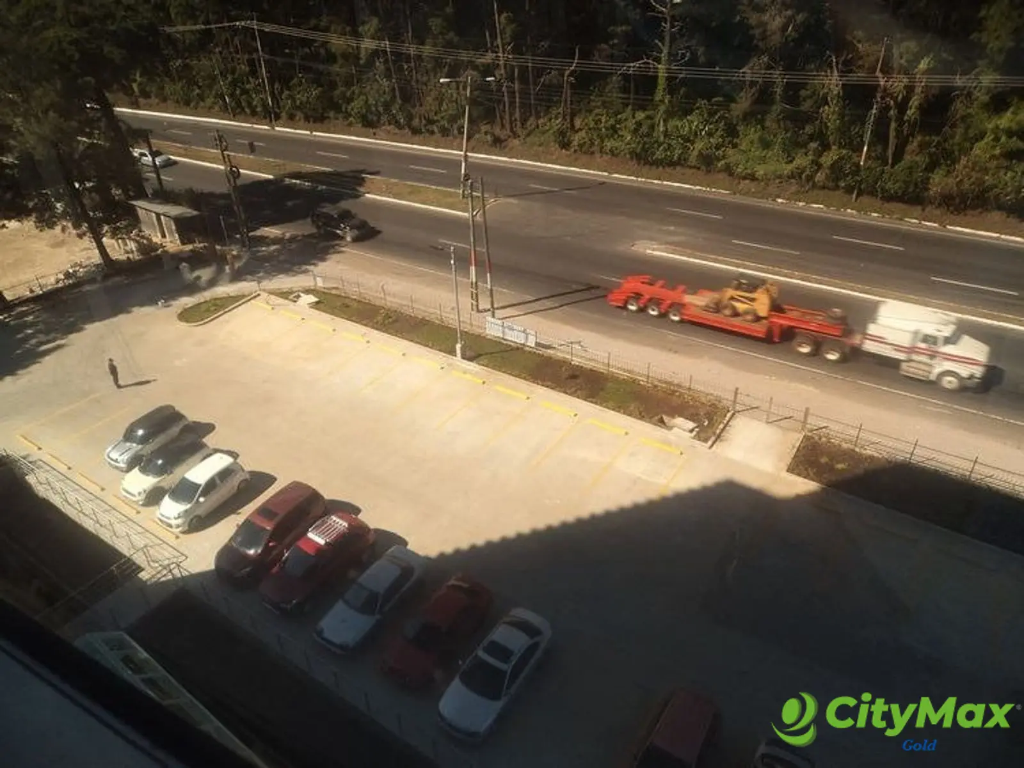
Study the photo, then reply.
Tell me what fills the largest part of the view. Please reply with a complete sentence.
The bulk of the photo consists of paved ground.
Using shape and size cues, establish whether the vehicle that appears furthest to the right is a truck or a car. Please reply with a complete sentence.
The vehicle that appears furthest to the right can be classified as a truck.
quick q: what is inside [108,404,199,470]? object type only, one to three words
car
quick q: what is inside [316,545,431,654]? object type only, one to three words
car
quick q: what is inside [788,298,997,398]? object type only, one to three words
truck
